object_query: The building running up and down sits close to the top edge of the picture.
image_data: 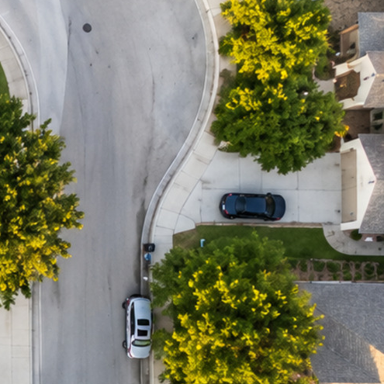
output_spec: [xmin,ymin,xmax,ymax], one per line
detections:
[335,11,384,110]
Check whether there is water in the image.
No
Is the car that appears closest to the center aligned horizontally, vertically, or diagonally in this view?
horizontally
